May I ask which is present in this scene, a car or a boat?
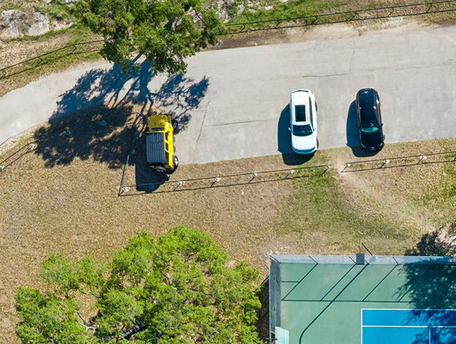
car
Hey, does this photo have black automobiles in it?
Yes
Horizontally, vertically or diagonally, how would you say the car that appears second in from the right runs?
vertically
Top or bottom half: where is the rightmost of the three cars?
top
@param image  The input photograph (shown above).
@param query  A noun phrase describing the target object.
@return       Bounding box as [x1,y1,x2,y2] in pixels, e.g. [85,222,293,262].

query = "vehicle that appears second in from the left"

[291,90,320,153]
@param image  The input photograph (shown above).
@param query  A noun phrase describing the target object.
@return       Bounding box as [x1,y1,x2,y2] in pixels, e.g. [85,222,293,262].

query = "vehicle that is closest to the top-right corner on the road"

[359,89,386,151]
